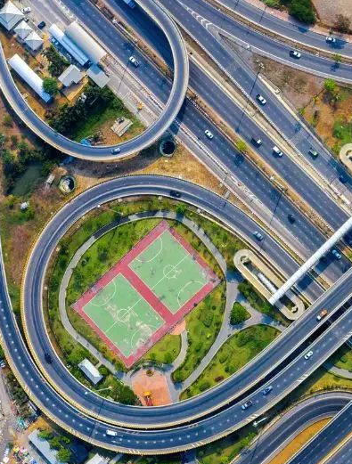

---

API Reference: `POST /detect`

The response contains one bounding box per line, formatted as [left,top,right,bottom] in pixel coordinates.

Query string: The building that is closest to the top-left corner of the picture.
[0,1,25,32]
